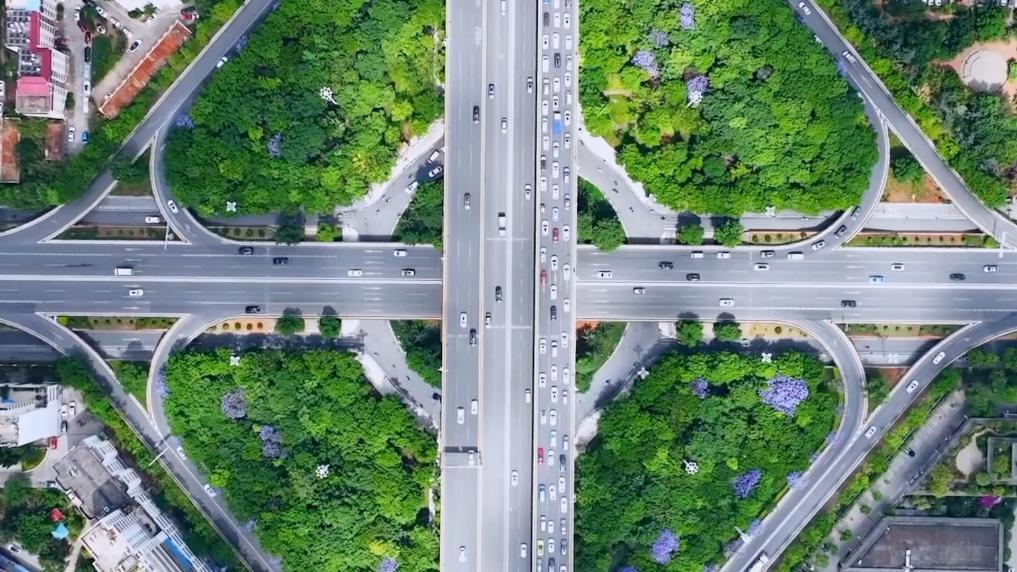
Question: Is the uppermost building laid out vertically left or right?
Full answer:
The uppermost building laid out vertically sits on the left side.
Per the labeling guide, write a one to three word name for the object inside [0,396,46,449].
building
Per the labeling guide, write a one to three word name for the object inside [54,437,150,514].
building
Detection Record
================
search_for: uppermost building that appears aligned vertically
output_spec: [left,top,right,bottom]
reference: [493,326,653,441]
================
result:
[4,0,67,118]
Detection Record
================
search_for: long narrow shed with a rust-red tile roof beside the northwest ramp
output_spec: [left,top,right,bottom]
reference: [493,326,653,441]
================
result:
[97,20,193,118]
